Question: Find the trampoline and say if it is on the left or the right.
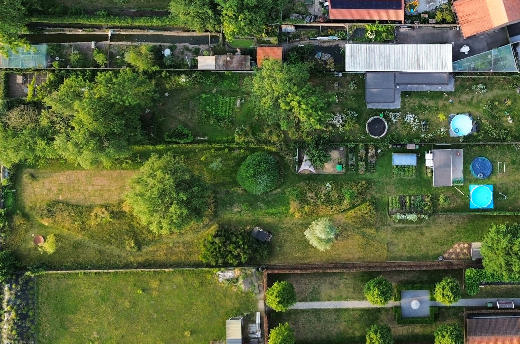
right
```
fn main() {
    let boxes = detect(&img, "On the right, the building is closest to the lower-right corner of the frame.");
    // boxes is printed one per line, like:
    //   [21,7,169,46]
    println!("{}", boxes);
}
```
[467,314,520,344]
